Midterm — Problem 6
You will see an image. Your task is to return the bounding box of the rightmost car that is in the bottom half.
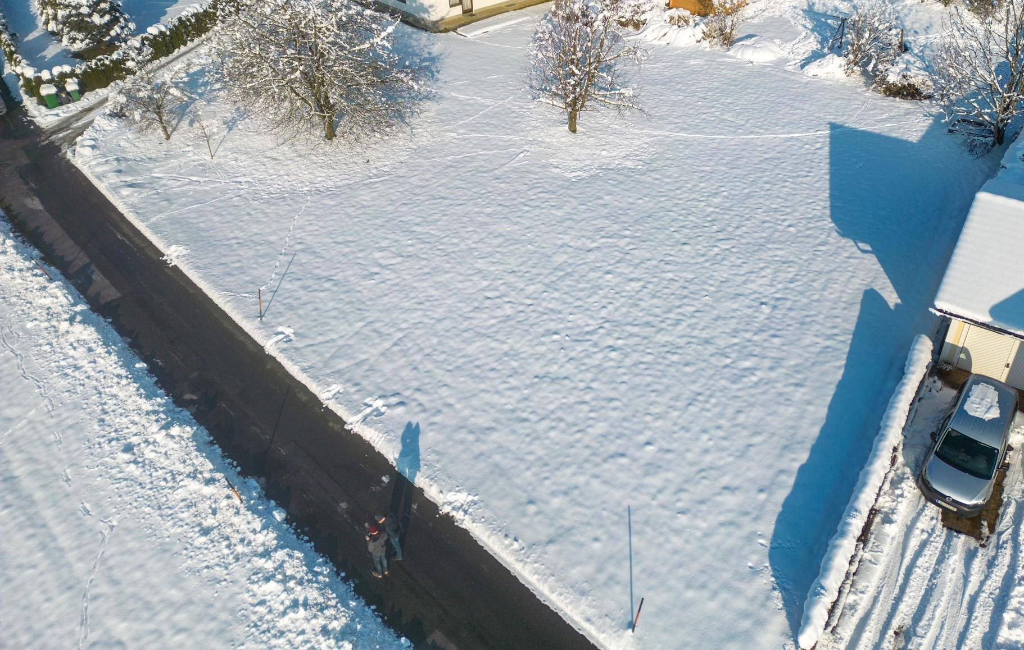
[915,377,1019,519]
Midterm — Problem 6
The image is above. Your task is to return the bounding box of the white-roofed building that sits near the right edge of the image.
[926,181,1024,393]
